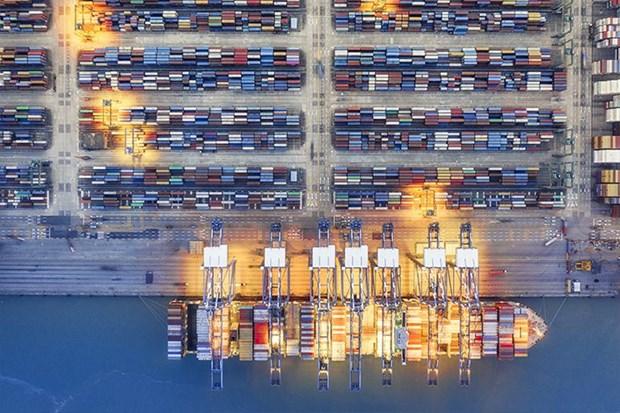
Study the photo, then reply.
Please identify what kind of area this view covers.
port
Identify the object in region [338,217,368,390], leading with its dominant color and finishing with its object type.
white container crane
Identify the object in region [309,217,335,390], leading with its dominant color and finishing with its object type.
white container crane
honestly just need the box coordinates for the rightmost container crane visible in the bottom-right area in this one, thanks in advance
[440,222,482,387]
